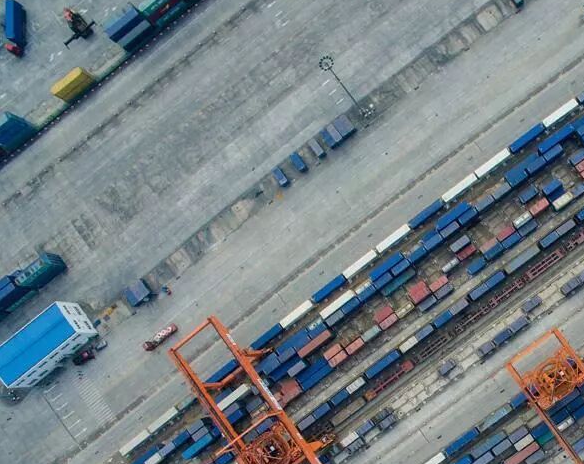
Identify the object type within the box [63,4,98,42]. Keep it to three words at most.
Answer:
work vehicle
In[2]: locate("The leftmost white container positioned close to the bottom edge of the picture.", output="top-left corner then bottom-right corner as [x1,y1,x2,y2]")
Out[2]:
[111,431,151,462]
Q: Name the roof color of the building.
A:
blue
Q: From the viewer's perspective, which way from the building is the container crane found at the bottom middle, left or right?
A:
on its right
